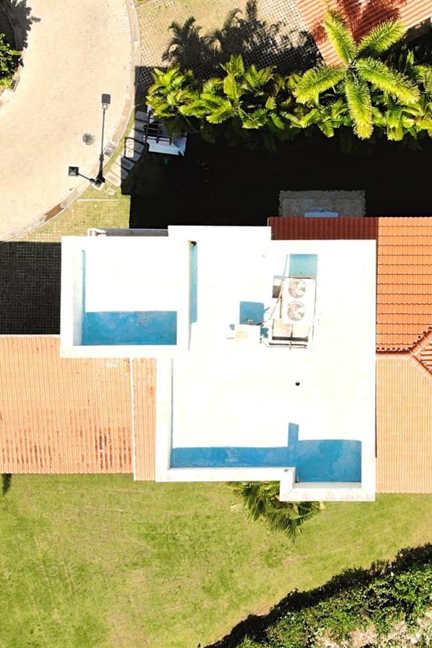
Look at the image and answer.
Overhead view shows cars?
No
